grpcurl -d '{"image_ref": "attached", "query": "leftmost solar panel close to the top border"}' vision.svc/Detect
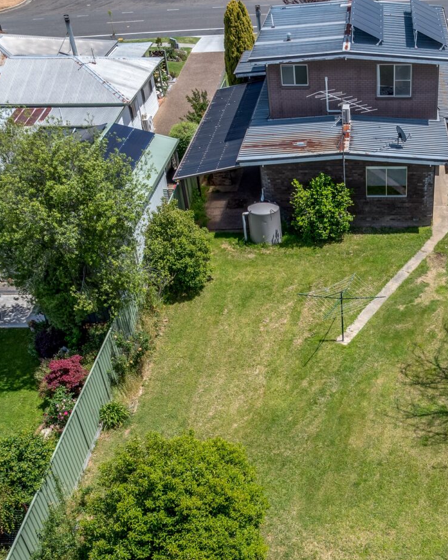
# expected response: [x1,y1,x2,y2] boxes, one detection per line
[351,0,384,43]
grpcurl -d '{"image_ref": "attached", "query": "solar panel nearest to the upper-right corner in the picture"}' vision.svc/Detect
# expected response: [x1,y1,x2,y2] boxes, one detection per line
[410,0,446,48]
